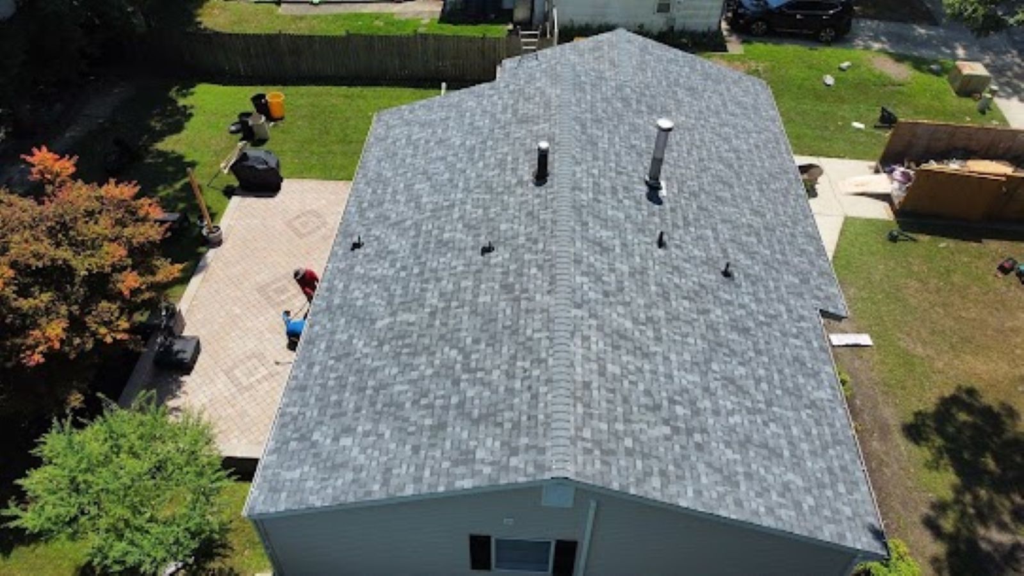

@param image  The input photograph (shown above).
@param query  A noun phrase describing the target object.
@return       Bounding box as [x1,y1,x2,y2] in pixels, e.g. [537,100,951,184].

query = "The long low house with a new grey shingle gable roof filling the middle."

[240,26,894,576]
